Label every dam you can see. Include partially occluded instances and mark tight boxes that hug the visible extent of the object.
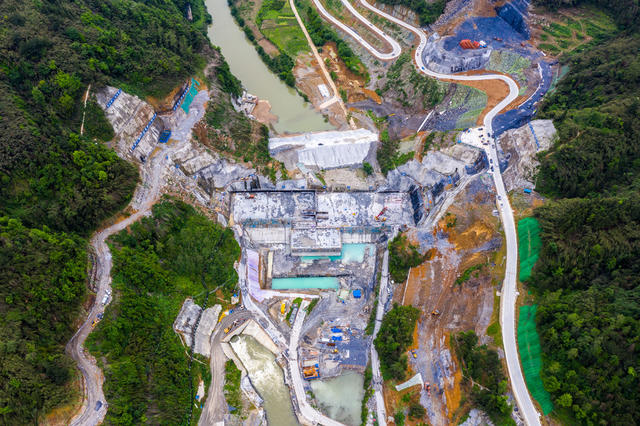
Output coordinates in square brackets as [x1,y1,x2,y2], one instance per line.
[232,191,411,254]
